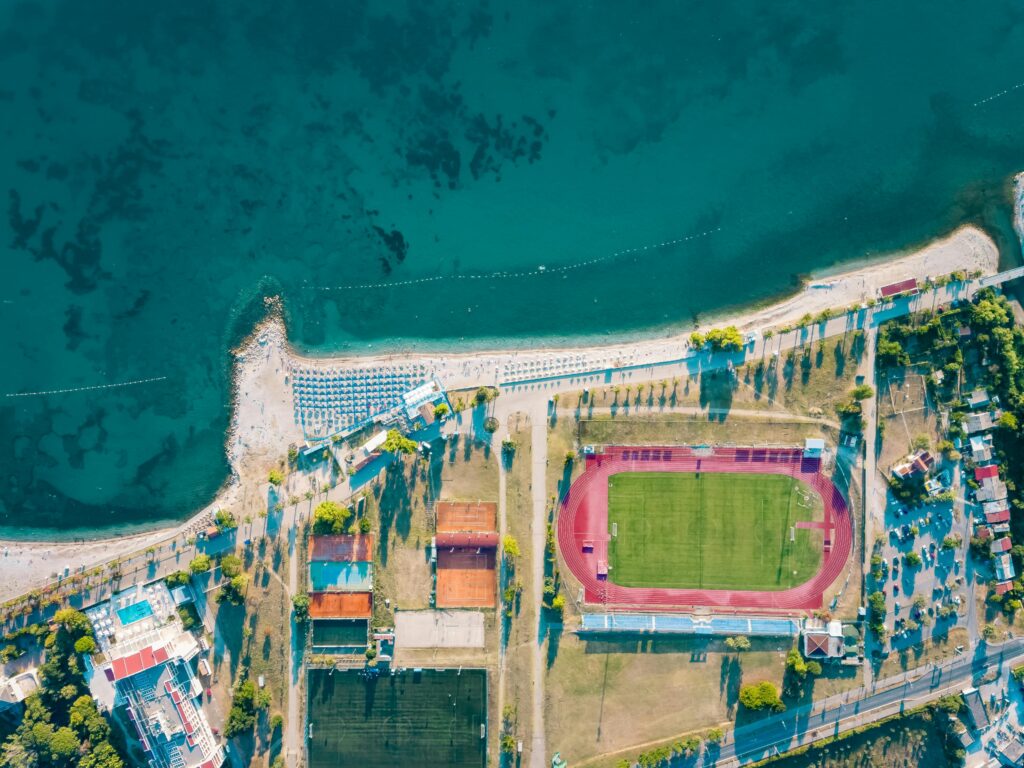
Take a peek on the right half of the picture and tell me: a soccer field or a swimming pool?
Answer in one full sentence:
Visible on the right half of the picture is a soccer field.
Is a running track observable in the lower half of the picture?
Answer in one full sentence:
Yes, a running track appears in the lower half of the picture.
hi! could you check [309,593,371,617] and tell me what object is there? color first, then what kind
orange tennis court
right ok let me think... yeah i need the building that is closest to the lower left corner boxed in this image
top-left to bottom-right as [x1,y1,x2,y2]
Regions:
[0,664,41,704]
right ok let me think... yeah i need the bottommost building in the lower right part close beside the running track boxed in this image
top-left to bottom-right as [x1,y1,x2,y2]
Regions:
[803,617,845,657]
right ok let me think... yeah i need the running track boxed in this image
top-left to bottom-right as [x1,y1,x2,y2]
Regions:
[558,447,853,611]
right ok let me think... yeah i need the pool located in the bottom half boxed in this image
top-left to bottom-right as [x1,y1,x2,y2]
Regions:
[117,600,152,624]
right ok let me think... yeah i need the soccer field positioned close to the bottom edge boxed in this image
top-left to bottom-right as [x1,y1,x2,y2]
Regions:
[306,669,486,768]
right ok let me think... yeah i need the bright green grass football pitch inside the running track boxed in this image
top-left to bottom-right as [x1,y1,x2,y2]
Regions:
[609,473,836,587]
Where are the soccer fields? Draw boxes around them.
[306,669,486,768]
[609,473,836,587]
